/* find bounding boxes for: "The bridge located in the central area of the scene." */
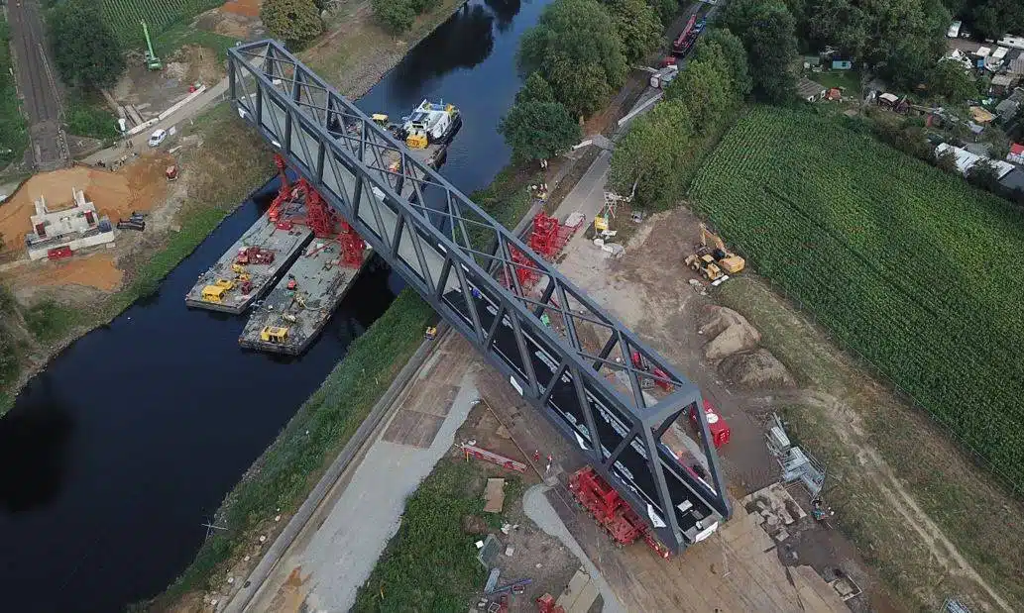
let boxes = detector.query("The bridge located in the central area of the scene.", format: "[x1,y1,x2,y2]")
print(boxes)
[227,36,735,557]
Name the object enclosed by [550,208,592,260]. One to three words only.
trailer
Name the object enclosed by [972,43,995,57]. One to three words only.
camper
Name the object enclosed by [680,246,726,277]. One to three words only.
work vehicle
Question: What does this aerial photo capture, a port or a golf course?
port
